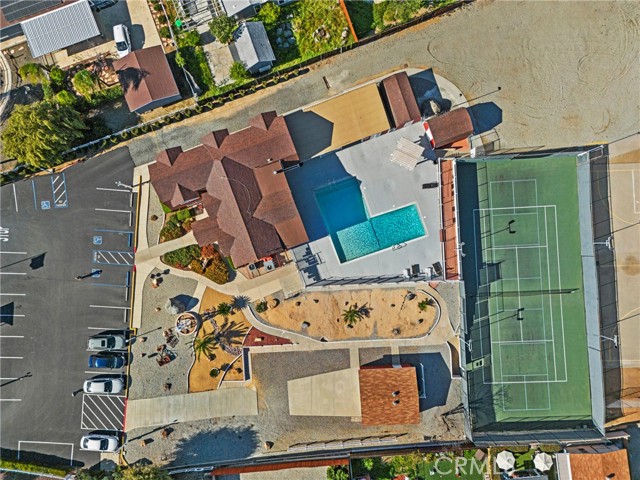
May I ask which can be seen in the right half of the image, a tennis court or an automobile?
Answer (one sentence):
There is a tennis court in the right half of the image.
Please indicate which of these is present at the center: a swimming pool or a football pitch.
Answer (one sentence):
Looking at the center, you will find a swimming pool.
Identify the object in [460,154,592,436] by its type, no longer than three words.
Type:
tennis court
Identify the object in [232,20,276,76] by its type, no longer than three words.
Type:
house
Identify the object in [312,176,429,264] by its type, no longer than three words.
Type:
swimming pool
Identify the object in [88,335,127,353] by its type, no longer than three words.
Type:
car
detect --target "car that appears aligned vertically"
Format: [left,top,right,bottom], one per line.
[112,22,134,59]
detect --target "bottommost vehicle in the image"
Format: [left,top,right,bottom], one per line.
[81,432,120,451]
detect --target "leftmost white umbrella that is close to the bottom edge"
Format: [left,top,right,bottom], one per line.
[496,450,515,469]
